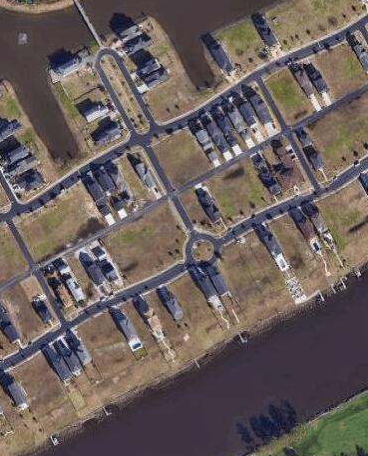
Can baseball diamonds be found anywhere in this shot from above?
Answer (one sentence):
No, the scene contains no baseball diamond.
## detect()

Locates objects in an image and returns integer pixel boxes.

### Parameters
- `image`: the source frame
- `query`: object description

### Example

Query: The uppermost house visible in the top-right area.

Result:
[257,18,280,48]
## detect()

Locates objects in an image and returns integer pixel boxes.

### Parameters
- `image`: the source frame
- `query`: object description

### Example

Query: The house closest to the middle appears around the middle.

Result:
[199,190,222,224]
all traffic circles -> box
[183,230,224,269]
